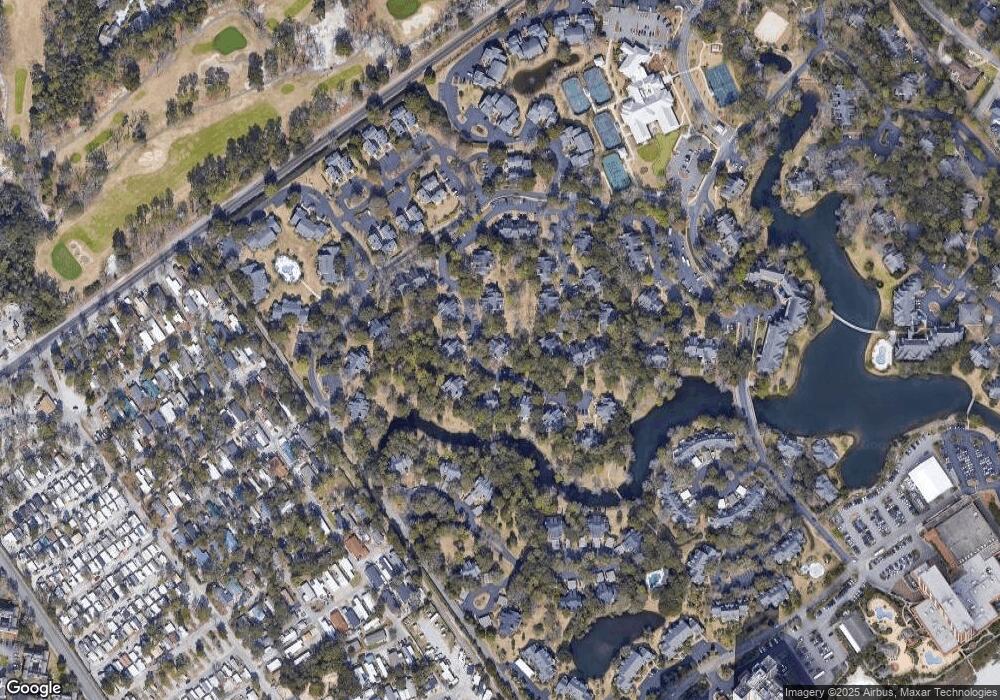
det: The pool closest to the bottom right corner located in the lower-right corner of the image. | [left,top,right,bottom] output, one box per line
[924,651,943,665]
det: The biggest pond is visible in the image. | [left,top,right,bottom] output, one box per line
[572,612,663,679]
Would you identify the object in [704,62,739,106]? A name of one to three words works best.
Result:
tennis court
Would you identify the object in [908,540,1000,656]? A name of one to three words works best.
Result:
building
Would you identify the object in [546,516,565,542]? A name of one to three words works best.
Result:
house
